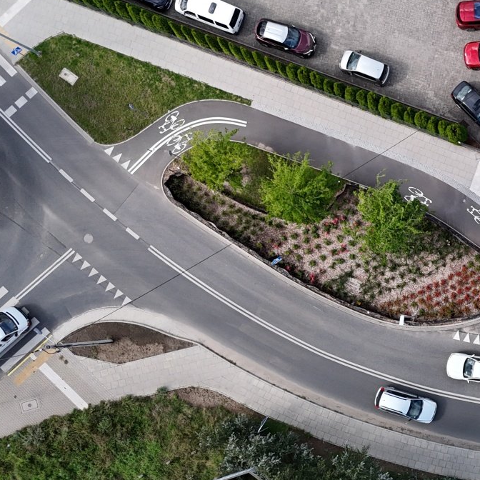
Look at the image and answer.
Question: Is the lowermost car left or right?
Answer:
right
